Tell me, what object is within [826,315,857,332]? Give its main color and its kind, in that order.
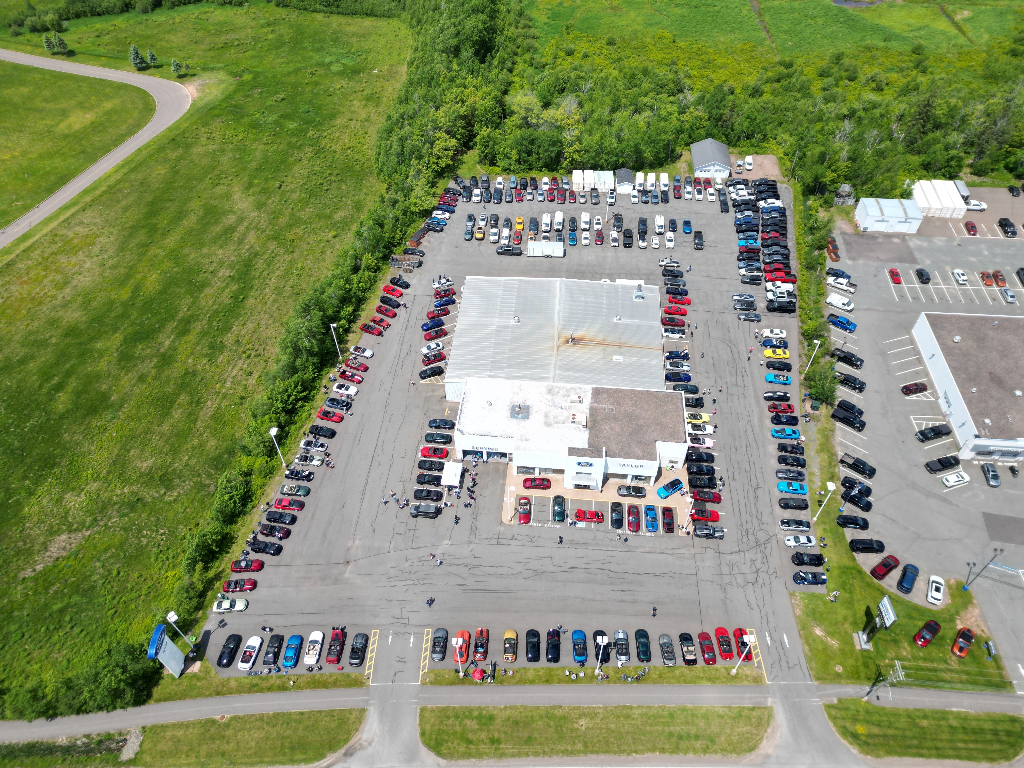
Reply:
blue vehicle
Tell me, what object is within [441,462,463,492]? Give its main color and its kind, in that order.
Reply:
white tent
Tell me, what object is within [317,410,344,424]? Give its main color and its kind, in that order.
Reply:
red car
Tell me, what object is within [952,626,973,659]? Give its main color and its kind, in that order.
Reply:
red car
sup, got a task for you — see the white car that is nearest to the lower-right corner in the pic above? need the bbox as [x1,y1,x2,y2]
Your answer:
[926,575,945,604]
